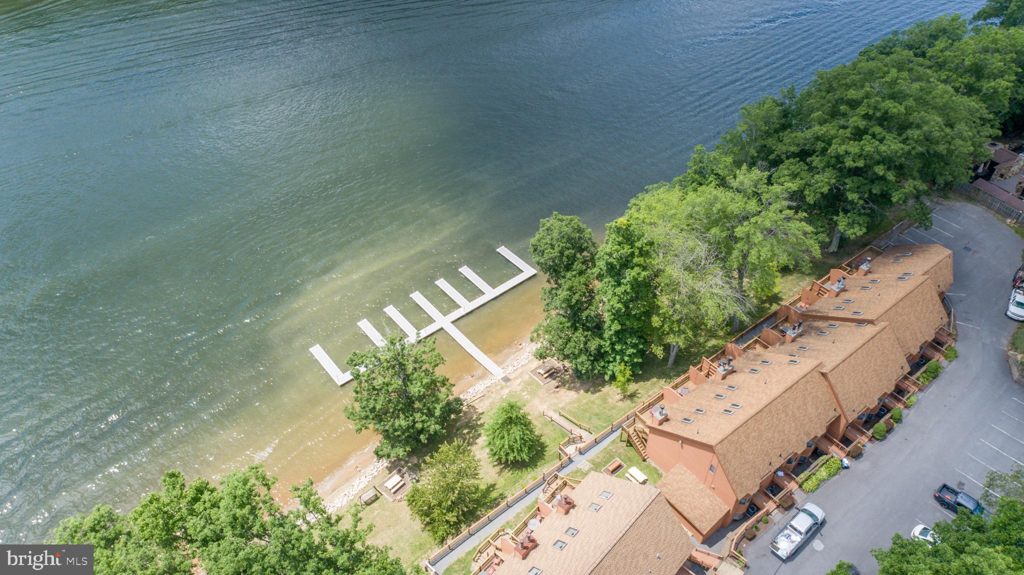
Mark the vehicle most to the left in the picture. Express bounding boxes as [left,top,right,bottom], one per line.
[766,504,824,564]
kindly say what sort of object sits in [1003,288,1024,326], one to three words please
truck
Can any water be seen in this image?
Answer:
Yes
